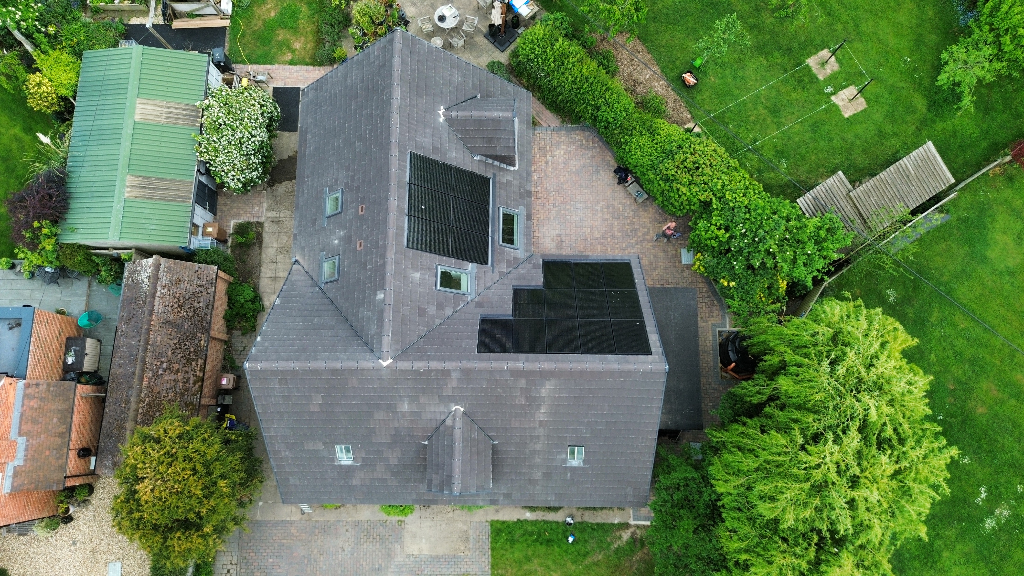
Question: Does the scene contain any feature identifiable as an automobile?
No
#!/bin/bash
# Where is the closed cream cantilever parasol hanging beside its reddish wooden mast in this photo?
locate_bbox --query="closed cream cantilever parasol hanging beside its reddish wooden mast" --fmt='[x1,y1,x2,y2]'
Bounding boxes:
[486,0,519,53]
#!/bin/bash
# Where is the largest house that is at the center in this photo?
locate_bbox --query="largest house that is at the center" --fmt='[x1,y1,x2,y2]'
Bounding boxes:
[240,26,673,507]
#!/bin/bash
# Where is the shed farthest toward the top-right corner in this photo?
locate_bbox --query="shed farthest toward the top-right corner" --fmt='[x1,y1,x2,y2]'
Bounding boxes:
[848,141,955,235]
